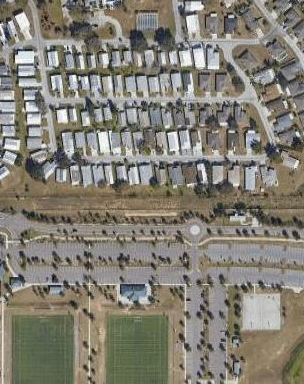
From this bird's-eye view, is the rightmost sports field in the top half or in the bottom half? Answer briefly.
bottom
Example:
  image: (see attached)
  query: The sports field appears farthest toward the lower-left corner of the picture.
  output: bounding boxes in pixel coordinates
[13,315,73,384]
